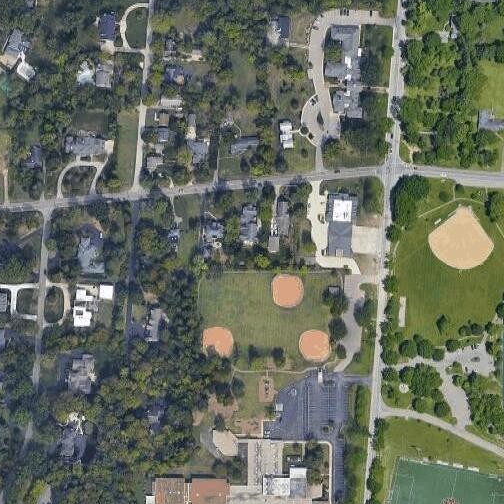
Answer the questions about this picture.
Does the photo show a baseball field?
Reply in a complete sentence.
Yes, the photo shows a baseball field.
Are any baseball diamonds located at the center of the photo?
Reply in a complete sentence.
Yes, a baseball diamond can be seen at the center of the photo.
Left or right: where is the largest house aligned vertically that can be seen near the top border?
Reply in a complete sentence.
It is on the right.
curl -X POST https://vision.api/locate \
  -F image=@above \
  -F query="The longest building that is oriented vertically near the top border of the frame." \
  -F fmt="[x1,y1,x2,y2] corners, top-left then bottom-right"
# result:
[325,24,363,117]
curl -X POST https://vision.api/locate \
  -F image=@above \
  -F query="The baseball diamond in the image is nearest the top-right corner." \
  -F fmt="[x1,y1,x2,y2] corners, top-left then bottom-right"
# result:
[429,204,495,270]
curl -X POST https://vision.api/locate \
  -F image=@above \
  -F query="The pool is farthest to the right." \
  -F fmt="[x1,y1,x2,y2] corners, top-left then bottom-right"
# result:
[77,64,95,83]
